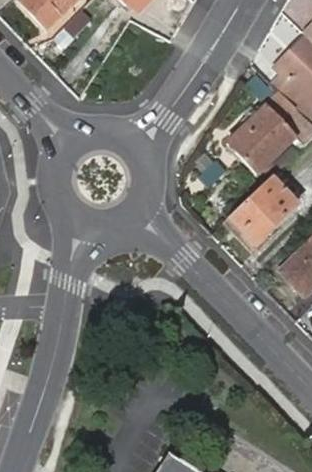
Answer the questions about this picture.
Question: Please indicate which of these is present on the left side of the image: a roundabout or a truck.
roundabout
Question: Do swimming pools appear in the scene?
Yes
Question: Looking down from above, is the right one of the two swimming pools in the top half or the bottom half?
top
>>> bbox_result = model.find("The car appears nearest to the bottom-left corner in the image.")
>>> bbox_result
[88,242,106,261]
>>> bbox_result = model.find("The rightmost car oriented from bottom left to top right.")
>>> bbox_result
[192,83,210,104]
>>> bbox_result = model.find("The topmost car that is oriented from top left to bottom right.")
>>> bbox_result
[5,45,25,66]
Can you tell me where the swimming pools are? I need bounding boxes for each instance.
[200,159,226,187]
[244,74,275,103]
